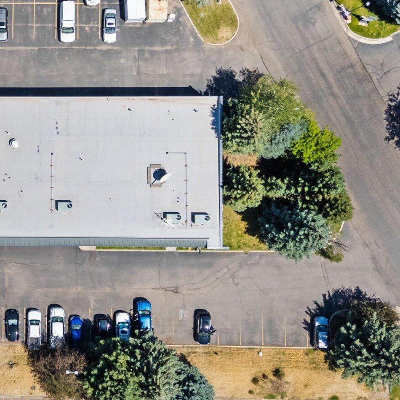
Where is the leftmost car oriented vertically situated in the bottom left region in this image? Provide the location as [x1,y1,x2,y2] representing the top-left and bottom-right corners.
[3,308,20,341]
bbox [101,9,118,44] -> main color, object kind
white car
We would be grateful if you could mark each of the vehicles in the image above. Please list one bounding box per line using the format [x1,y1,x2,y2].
[196,310,218,343]
[48,306,67,349]
[0,7,9,43]
[114,311,132,344]
[26,309,43,350]
[68,314,84,344]
[101,9,118,44]
[59,1,77,43]
[136,299,154,343]
[3,308,20,341]
[96,314,111,344]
